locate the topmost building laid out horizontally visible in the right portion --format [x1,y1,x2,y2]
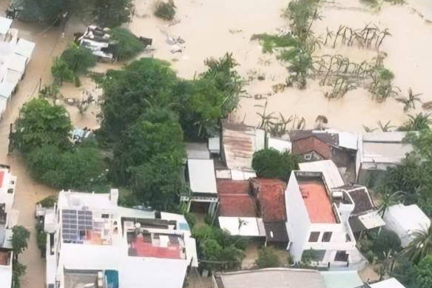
[290,132,343,147]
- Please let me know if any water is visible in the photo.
Yes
